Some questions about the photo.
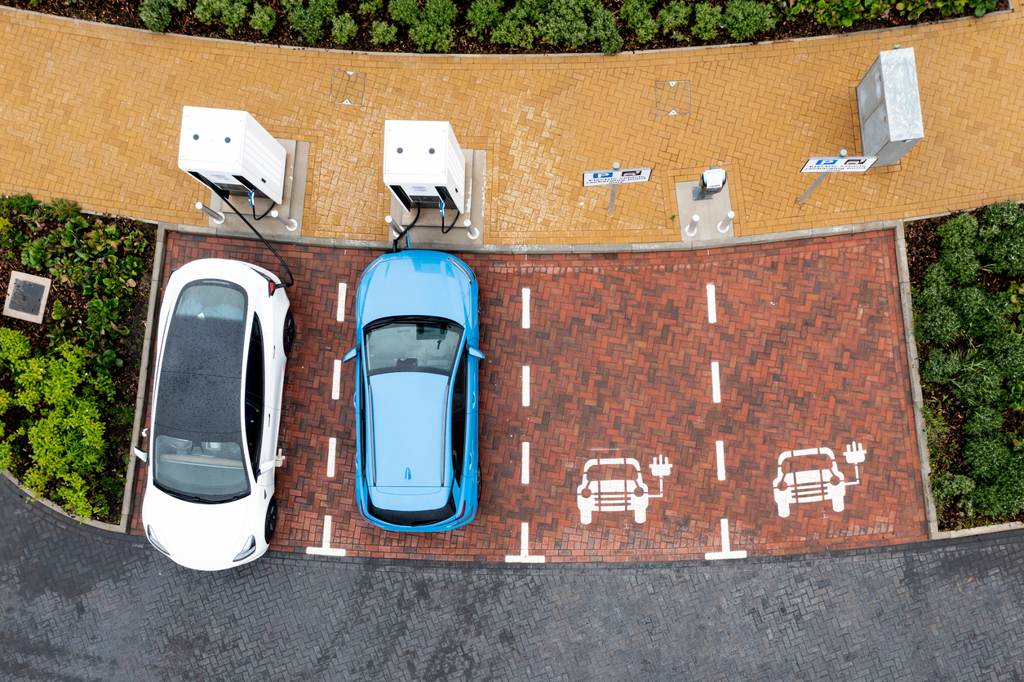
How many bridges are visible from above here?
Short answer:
none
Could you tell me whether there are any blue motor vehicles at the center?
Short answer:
Yes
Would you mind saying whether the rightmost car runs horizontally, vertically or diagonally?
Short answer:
vertically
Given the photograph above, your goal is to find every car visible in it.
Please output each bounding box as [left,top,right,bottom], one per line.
[342,230,489,535]
[133,258,298,573]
